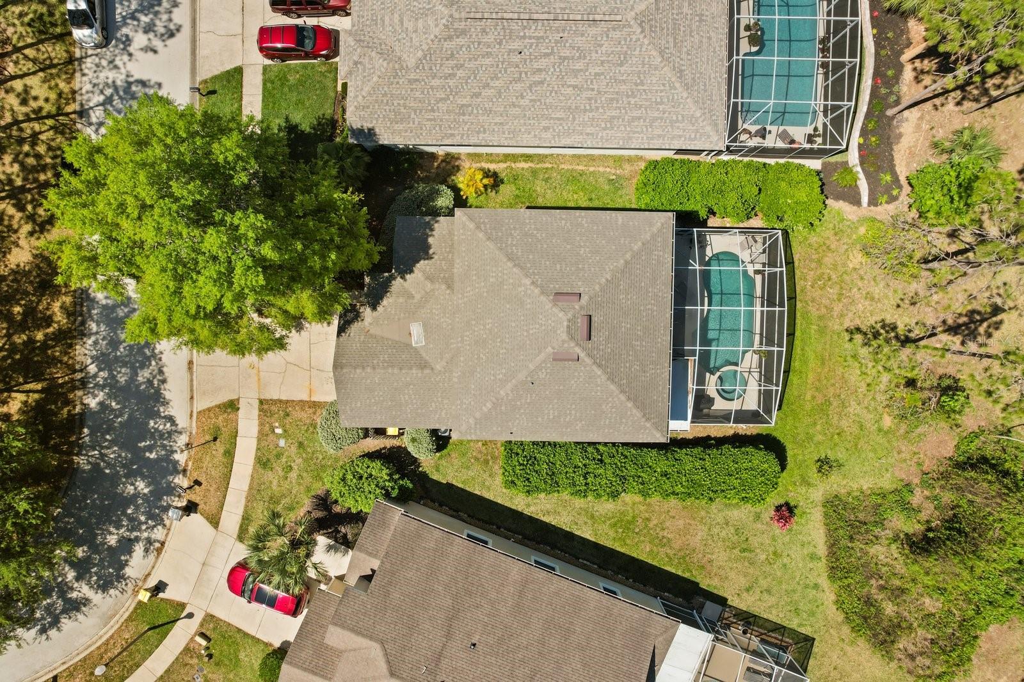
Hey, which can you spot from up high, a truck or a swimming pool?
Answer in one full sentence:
Of the two, only a swimming pool appears.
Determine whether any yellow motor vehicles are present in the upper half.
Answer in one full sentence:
No, I can find no yellow motor vehicle in the upper half.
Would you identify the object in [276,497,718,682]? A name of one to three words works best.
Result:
house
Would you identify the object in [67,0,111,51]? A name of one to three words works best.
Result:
car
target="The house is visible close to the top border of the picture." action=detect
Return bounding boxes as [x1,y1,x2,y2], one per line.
[338,0,733,158]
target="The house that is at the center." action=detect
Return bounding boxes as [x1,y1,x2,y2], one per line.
[333,207,679,443]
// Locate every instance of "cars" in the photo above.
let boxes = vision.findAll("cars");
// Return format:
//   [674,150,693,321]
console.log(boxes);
[227,560,310,621]
[259,23,336,65]
[271,0,352,19]
[67,0,111,51]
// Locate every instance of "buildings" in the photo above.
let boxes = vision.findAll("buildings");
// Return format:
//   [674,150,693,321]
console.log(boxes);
[338,0,733,158]
[276,497,718,682]
[333,207,679,443]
